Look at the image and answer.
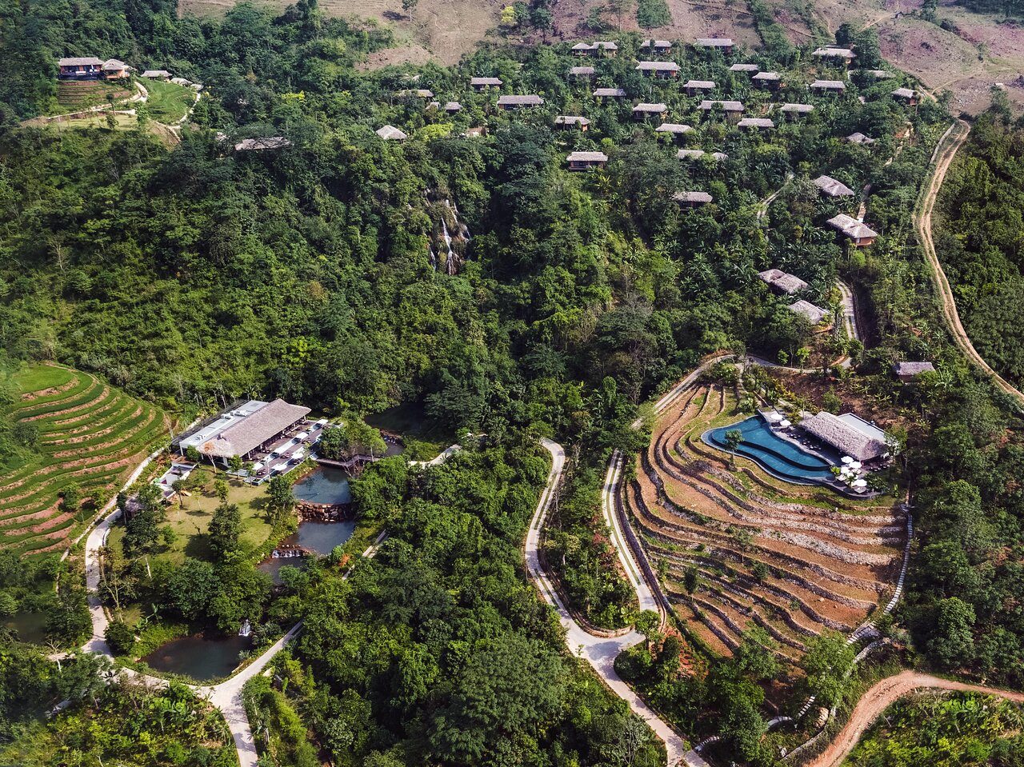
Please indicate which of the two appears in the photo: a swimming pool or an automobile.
swimming pool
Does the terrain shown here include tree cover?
Yes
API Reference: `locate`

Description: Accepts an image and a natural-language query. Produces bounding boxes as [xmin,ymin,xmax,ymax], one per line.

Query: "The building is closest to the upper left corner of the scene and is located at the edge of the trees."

[52,55,108,85]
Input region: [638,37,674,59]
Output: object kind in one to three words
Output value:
house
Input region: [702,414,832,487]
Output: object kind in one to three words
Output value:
swimming pool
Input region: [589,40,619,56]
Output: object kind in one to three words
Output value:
house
